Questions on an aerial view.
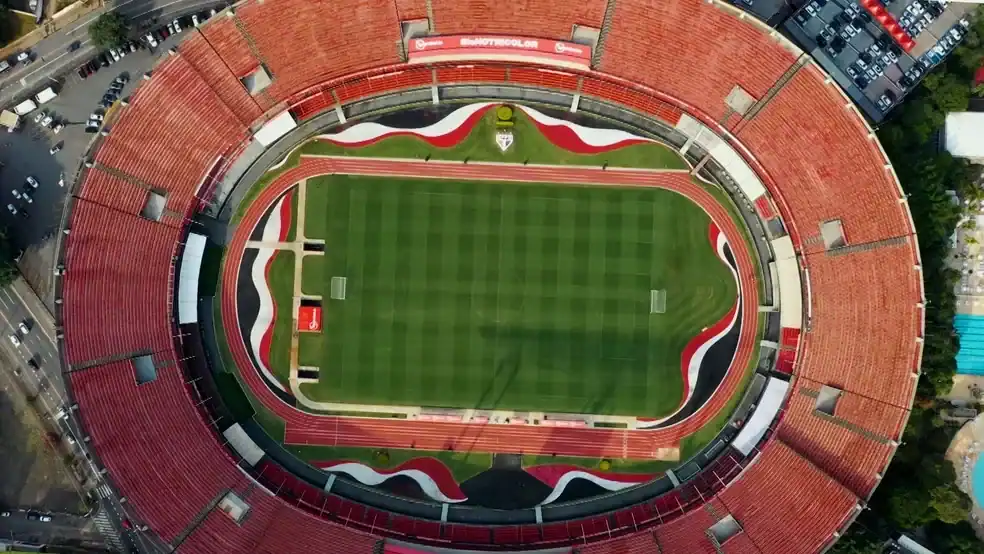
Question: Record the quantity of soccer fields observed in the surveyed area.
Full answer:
The picture shows 1 soccer field.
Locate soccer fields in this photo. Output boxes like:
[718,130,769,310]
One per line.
[236,174,742,428]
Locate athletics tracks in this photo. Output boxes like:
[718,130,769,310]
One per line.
[221,153,758,462]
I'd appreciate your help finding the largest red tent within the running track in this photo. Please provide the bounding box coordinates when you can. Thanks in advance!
[298,305,324,331]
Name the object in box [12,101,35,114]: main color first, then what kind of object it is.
white vehicle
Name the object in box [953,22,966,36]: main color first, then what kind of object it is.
black vehicle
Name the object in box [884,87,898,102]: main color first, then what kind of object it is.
black vehicle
